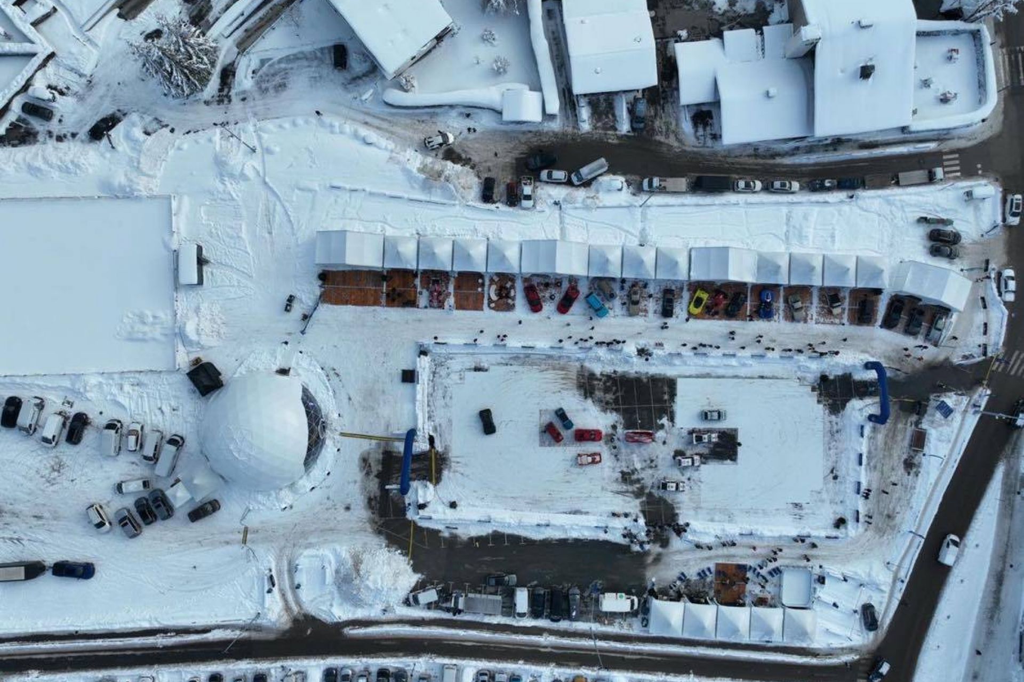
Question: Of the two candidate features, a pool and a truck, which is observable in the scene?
truck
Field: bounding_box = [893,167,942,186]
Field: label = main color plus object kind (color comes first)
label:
gray vehicle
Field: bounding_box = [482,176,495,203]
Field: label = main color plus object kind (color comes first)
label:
black vehicle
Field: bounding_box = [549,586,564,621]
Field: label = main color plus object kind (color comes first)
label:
black vehicle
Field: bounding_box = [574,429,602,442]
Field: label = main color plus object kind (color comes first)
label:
red vehicle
